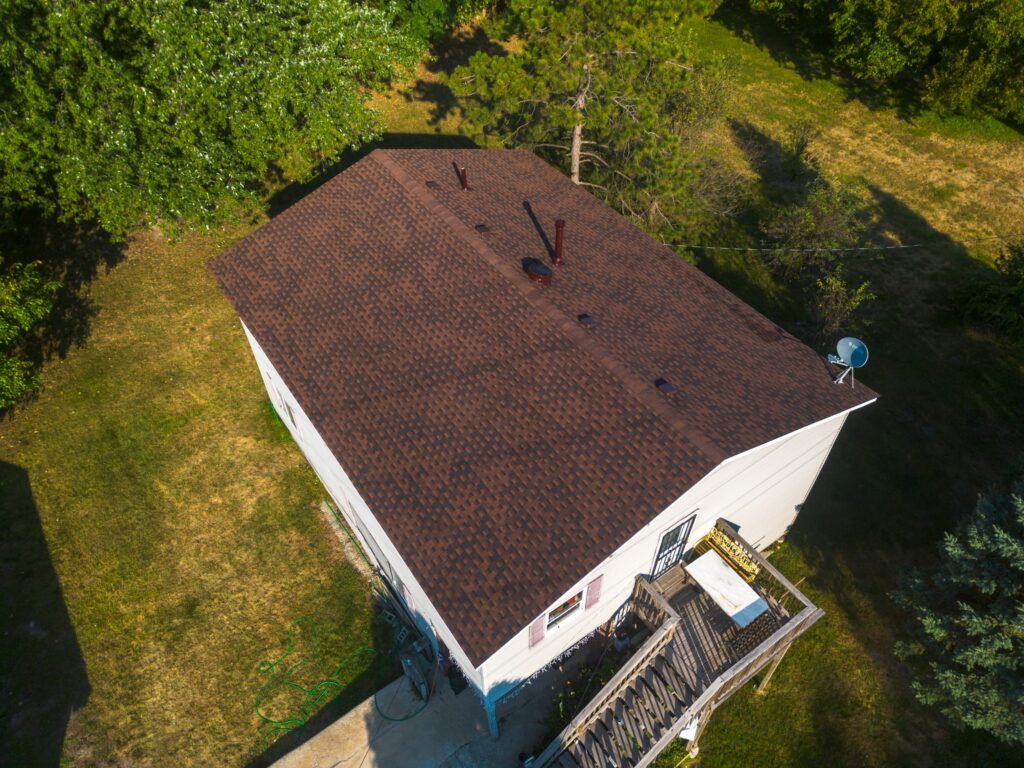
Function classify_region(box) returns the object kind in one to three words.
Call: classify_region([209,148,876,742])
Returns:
house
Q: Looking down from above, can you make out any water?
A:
No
